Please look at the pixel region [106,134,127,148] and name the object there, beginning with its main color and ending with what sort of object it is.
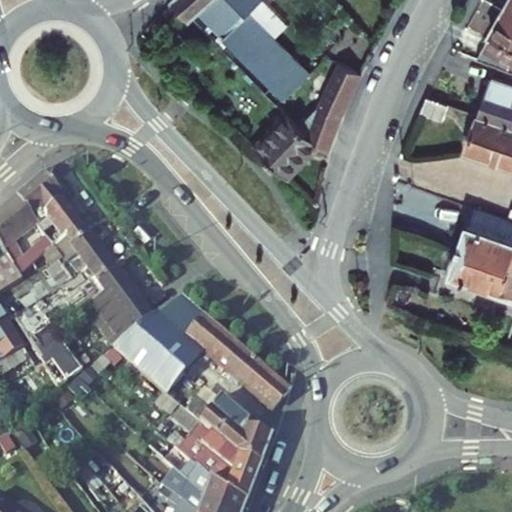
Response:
red car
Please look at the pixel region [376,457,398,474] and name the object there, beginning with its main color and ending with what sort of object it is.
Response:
gray car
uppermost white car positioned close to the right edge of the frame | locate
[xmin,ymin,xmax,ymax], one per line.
[468,66,489,78]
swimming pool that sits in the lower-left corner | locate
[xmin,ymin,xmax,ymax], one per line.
[58,428,74,443]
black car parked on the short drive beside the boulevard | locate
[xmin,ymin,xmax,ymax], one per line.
[134,190,156,208]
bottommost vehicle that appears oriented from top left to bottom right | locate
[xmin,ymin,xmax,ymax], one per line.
[133,226,152,246]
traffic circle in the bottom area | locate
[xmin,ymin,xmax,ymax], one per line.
[328,371,414,457]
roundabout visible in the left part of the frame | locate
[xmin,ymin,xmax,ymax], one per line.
[6,20,104,118]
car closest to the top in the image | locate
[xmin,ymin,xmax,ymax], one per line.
[392,13,410,38]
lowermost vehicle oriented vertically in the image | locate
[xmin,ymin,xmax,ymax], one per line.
[266,471,278,492]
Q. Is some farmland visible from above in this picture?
No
